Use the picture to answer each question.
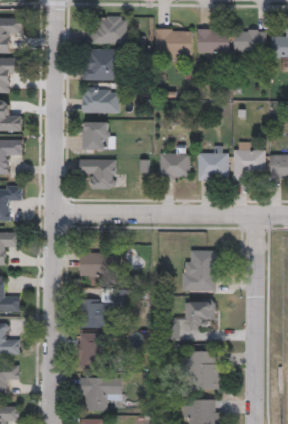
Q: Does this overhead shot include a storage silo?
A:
No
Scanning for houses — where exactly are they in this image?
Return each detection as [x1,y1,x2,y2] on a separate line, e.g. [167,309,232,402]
[234,30,266,52]
[197,30,230,54]
[92,16,127,44]
[83,122,108,150]
[172,302,215,342]
[0,407,18,424]
[183,250,215,292]
[0,187,22,222]
[82,88,120,114]
[156,29,193,60]
[83,50,114,81]
[184,401,219,424]
[0,363,19,394]
[161,154,190,178]
[79,160,116,190]
[0,100,22,132]
[198,146,230,181]
[273,26,288,74]
[82,300,104,329]
[80,253,105,286]
[192,352,219,391]
[80,379,122,413]
[0,233,16,266]
[0,58,14,94]
[0,324,20,356]
[270,155,288,178]
[234,150,266,182]
[0,140,22,176]
[80,332,96,371]
[0,18,22,53]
